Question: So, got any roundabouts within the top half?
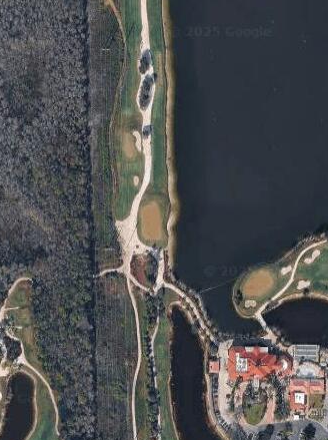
No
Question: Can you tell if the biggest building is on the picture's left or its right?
right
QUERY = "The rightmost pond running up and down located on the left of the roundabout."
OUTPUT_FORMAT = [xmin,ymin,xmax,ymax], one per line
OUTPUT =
[171,302,221,440]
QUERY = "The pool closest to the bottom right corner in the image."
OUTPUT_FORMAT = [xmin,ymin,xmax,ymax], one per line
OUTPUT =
[296,362,319,379]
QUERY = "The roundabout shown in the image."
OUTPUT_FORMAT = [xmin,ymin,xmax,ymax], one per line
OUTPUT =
[235,380,274,431]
